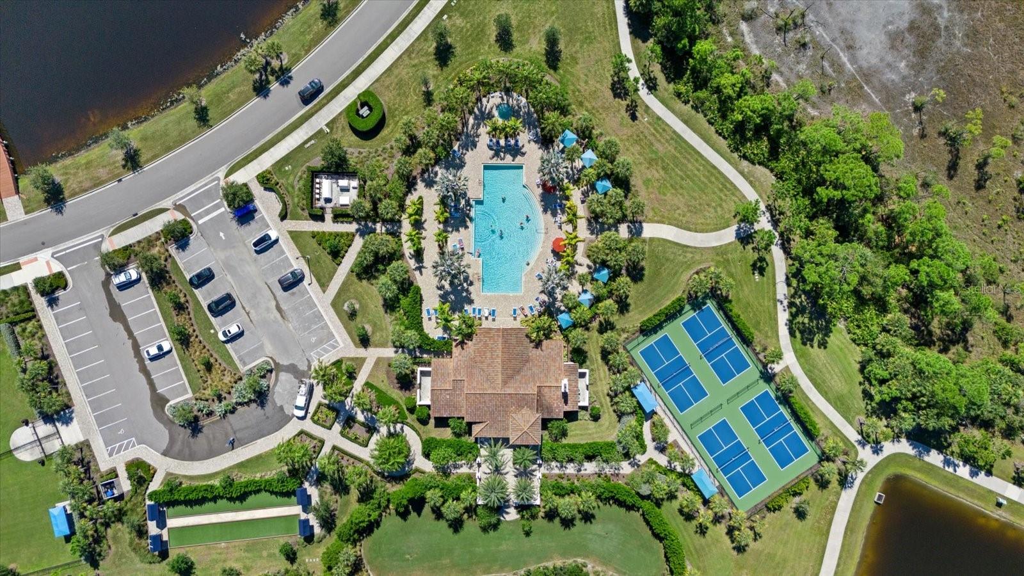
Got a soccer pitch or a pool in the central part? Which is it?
pool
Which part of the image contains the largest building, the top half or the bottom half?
bottom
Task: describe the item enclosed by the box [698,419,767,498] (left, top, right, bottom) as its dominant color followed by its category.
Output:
blue sports court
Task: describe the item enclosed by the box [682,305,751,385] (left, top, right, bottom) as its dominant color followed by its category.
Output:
blue sports court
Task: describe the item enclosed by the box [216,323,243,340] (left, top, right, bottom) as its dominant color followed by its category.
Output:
white car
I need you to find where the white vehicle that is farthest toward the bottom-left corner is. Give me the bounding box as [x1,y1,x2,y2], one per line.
[141,342,170,358]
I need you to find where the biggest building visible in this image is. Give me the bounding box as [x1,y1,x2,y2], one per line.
[417,326,588,445]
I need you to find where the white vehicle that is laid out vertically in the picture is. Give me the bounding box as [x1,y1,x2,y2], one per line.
[291,381,310,418]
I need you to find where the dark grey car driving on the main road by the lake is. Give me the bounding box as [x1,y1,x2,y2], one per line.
[296,79,323,101]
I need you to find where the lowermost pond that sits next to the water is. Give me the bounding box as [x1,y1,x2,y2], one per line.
[853,473,1024,576]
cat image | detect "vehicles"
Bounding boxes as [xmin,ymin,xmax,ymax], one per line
[141,342,170,358]
[187,267,213,285]
[250,231,277,251]
[206,294,234,314]
[275,269,304,289]
[109,269,139,287]
[229,202,256,219]
[296,79,323,101]
[291,381,310,418]
[216,323,243,340]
